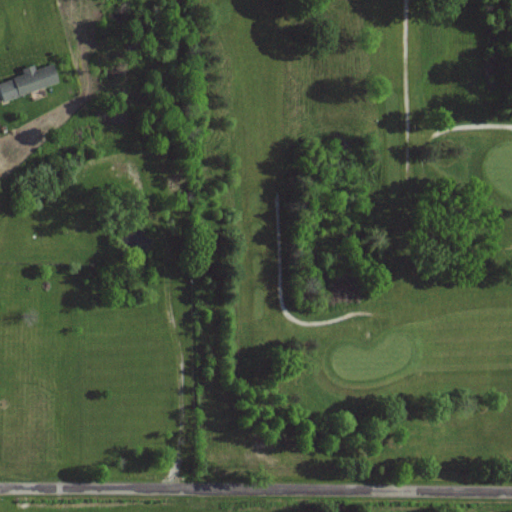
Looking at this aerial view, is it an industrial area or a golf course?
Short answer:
golf course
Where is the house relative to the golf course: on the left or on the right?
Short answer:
left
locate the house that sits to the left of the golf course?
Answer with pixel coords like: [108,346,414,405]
[0,64,60,103]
